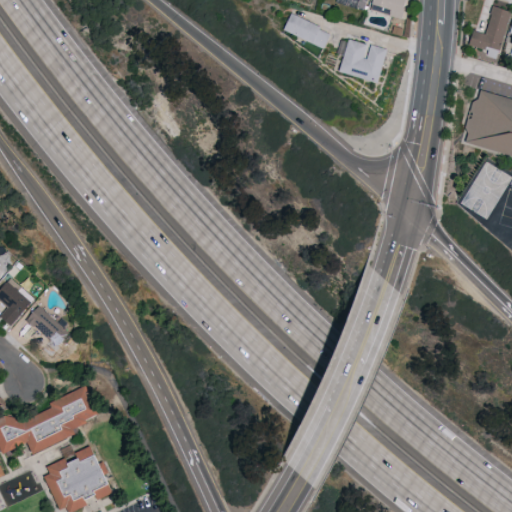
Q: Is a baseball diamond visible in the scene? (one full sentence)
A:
No, I find no baseball diamond anywhere in the image.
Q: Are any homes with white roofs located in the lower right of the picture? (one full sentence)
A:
No, there's no home with a white roof to be seen in the lower right of the picture.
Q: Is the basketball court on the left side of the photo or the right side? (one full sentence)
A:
It is on the right.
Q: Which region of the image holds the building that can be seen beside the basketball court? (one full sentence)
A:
The building that can be seen beside the basketball court is located in the top right region of the scene.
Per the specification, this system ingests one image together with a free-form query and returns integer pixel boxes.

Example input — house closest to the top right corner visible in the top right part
[470,5,512,59]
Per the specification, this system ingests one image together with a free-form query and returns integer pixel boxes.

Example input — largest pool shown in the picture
[47,291,67,310]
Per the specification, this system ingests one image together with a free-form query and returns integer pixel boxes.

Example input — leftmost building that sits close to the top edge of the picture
[284,13,331,48]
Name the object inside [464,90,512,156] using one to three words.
building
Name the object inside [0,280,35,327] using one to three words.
house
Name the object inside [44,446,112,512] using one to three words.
building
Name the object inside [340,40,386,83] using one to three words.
house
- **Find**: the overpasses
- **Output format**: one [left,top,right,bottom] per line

[282,256,408,491]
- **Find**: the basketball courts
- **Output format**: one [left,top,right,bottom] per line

[462,162,512,219]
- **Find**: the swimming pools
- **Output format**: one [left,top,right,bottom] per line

[47,291,67,310]
[369,16,388,27]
